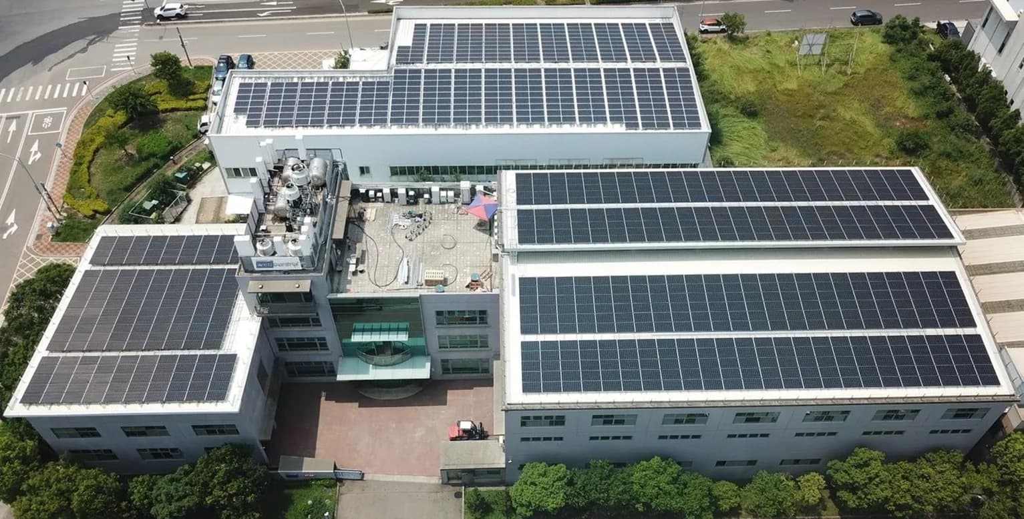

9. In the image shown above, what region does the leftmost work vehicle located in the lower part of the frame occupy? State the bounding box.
[448,415,494,440]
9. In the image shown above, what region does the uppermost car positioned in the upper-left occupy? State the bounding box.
[153,1,186,17]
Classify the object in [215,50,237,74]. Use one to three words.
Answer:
car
